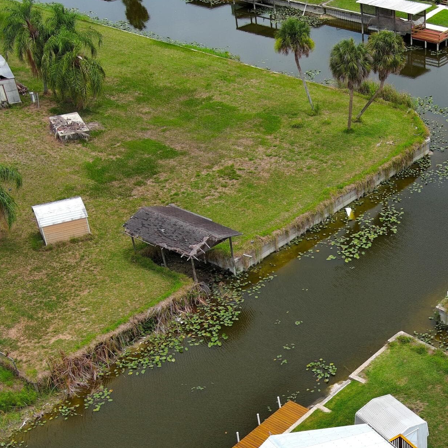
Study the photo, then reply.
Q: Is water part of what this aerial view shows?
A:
Yes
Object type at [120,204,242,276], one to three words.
building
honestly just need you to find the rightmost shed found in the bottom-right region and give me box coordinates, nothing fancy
[353,391,430,448]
